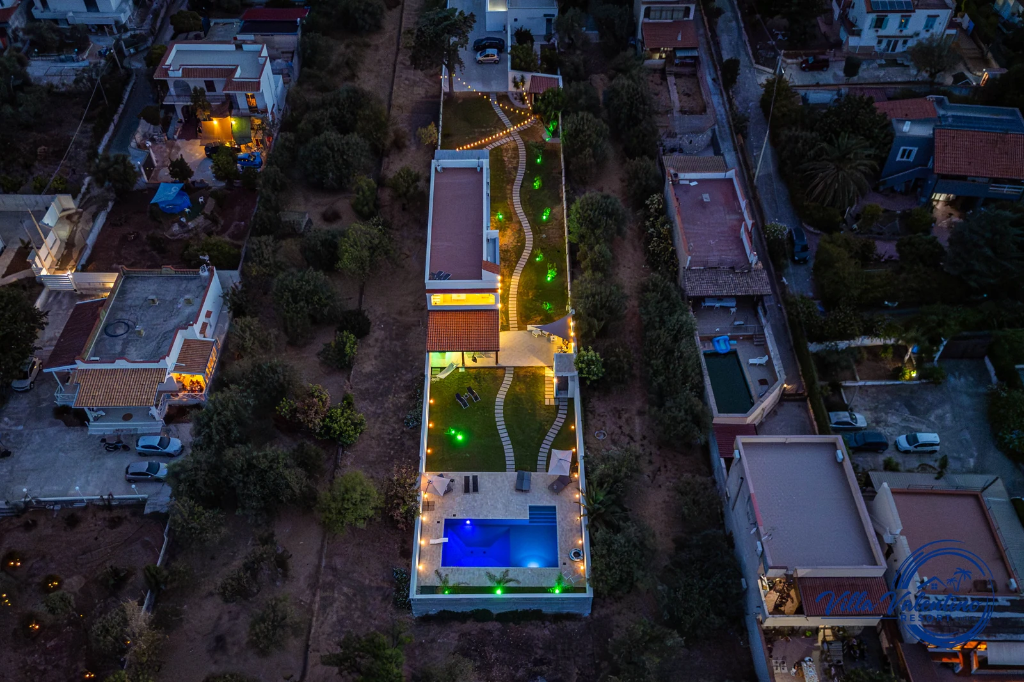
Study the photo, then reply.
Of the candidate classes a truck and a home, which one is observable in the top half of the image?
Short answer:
home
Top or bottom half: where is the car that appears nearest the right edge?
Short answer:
bottom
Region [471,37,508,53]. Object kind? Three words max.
car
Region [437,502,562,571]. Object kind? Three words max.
swimming pool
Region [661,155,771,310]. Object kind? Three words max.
house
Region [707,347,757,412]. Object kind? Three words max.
swimming pool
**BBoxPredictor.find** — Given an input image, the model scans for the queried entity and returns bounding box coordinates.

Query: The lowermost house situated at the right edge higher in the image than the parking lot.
[863,95,1024,216]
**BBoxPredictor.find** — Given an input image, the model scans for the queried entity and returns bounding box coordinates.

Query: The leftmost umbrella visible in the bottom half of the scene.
[419,474,451,512]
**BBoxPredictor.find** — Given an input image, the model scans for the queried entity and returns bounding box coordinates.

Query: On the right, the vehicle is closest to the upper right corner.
[799,57,831,73]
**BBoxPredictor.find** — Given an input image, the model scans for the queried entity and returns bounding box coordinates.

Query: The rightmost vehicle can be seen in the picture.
[894,433,942,456]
